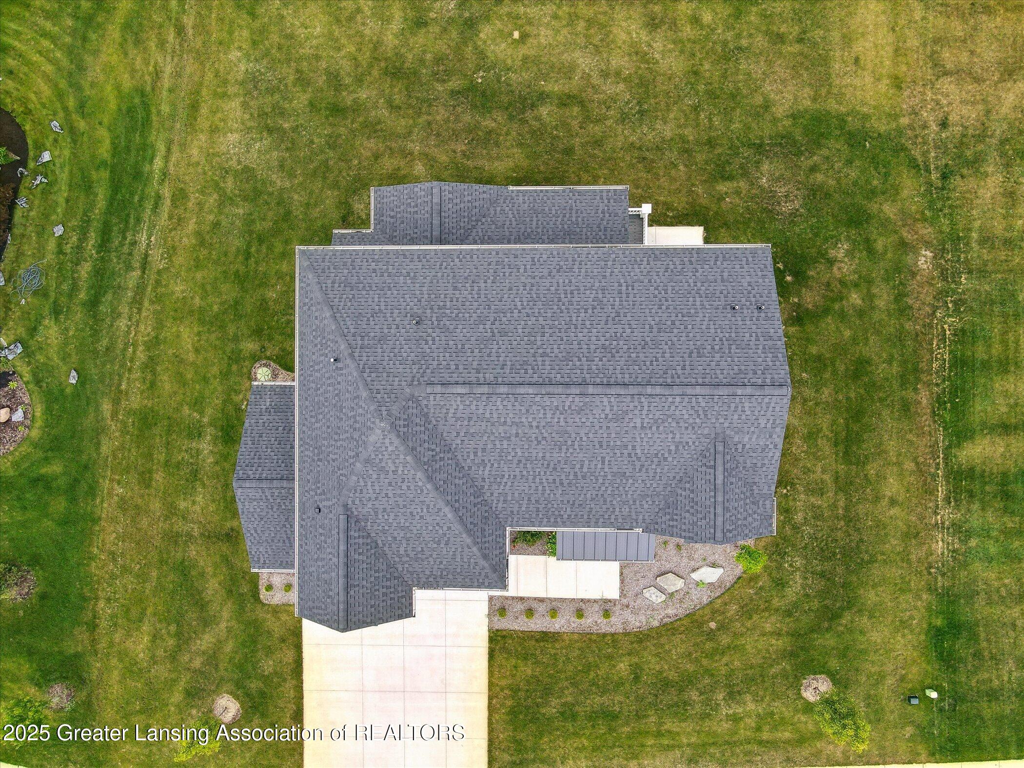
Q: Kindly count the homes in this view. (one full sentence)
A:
The picture shows just 1 home.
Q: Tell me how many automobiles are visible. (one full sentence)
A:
The picture shows no automobiles.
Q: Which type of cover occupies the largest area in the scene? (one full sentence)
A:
What you mostly see from above here is grass.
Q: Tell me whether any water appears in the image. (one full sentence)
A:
No, no water is visible.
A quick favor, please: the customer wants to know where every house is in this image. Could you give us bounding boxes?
[234,182,791,631]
